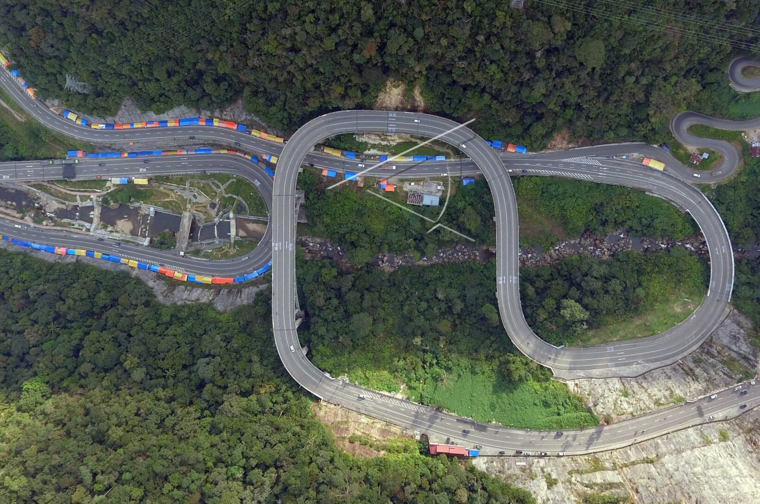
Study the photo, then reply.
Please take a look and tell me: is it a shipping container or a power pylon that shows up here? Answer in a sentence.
It is a power pylon that can be seen here.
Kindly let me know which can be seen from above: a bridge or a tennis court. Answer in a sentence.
Of the two, only a bridge appears.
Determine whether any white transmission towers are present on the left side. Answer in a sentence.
No, there is no white transmission tower on the left side.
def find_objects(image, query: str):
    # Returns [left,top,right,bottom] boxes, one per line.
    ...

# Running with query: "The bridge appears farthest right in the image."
[688,196,734,298]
